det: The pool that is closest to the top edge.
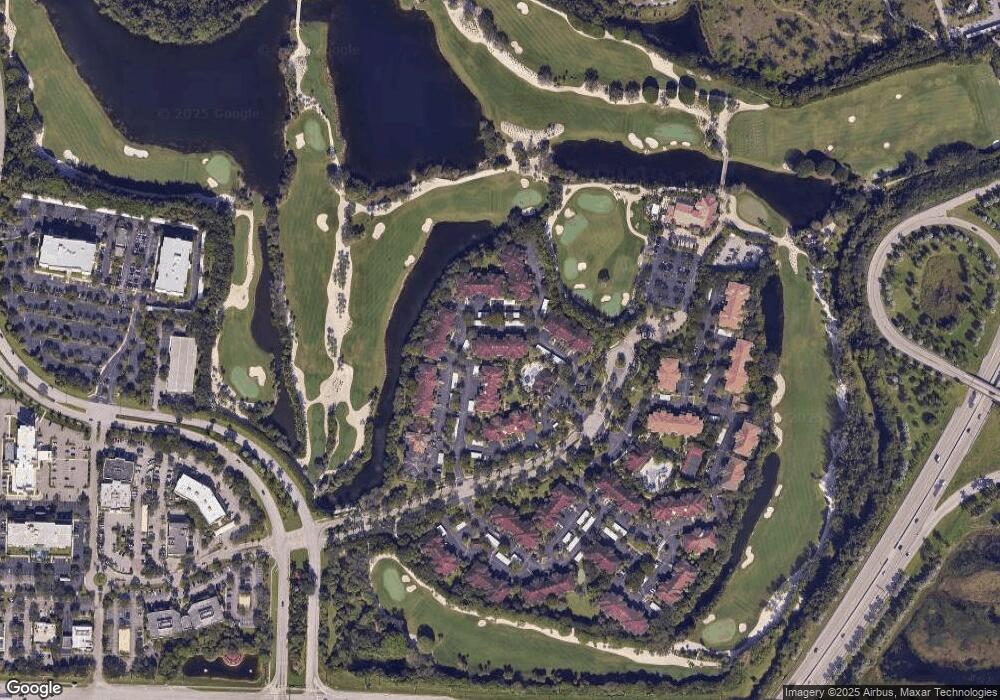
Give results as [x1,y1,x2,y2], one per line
[521,360,545,391]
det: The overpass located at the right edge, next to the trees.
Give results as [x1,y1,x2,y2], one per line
[892,343,1000,404]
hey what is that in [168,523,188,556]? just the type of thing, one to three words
building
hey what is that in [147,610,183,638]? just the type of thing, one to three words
building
